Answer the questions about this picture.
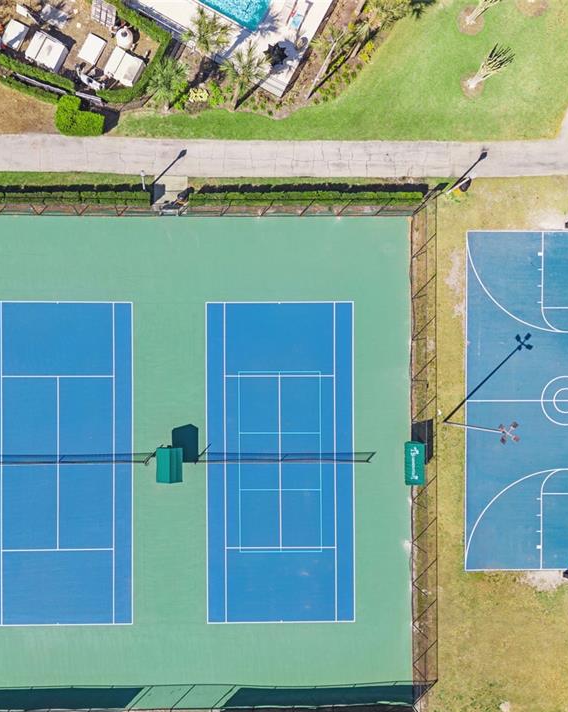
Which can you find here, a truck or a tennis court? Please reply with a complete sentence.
Of the two, only a tennis court appears.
